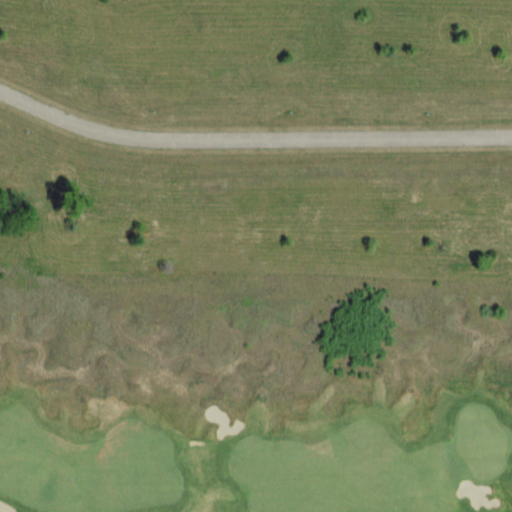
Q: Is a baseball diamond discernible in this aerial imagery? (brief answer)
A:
No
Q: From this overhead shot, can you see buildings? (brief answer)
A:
No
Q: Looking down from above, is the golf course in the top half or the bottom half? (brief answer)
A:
bottom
